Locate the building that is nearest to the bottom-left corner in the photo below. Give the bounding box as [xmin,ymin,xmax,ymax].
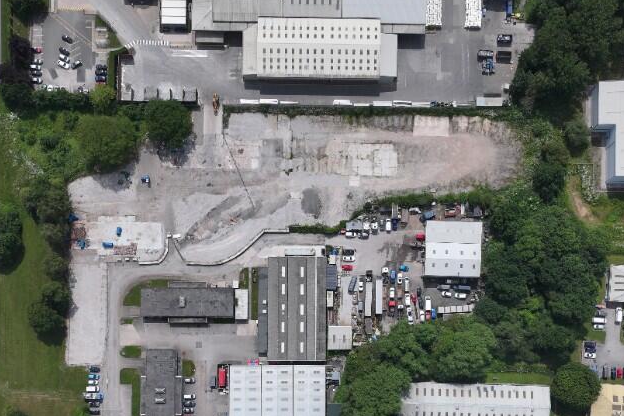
[141,349,184,416]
